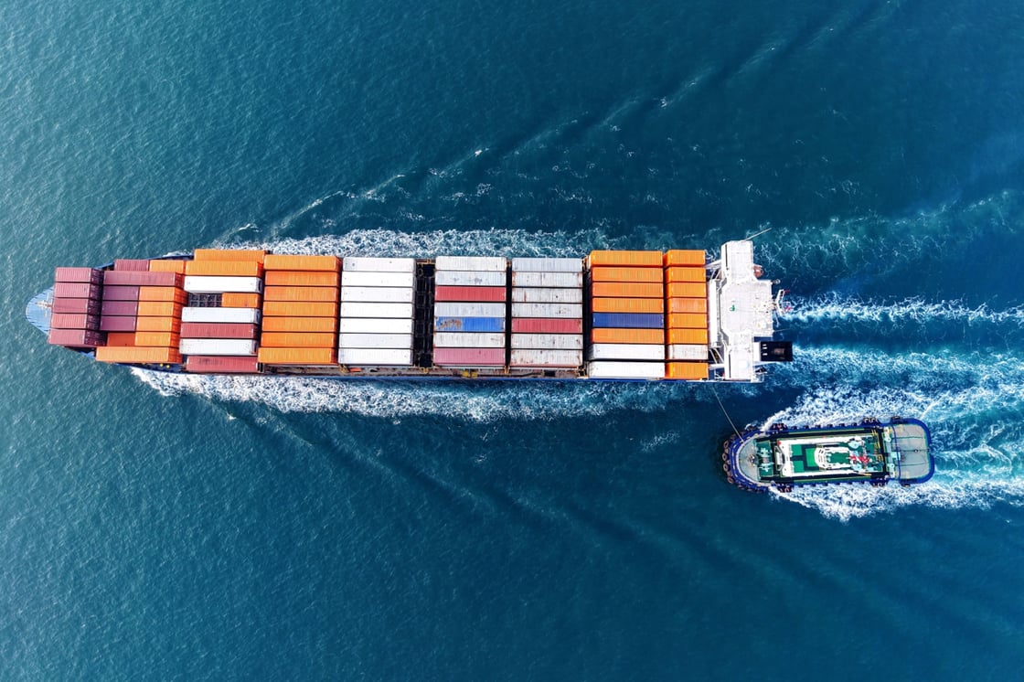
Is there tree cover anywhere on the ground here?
No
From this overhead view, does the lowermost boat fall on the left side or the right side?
right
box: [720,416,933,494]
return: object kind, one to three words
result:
boat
